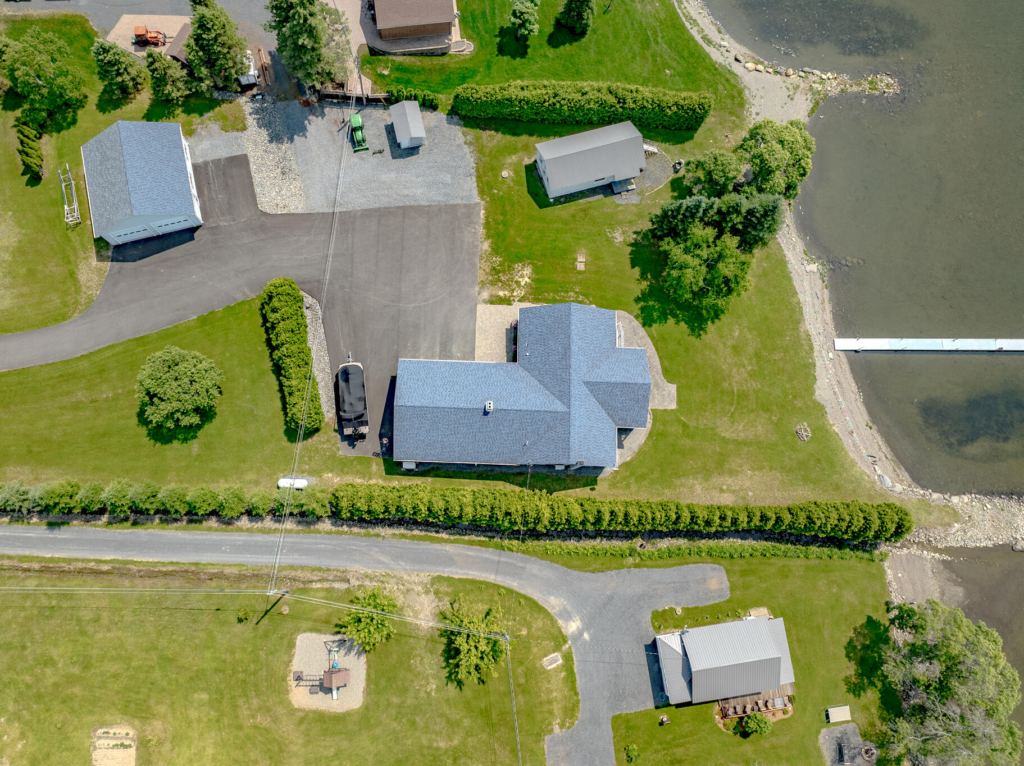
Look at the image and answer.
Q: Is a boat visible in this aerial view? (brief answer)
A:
Yes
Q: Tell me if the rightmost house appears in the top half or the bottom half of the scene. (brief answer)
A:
bottom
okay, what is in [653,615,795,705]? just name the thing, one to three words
house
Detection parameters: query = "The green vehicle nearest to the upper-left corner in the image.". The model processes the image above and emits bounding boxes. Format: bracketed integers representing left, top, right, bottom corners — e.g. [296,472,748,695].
[352,115,367,152]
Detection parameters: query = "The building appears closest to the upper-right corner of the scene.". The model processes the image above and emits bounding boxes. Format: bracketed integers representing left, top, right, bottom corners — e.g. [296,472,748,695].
[534,120,645,202]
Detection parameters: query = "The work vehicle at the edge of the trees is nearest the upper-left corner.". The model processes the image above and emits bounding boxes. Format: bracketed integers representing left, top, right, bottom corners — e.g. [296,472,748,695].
[126,22,173,49]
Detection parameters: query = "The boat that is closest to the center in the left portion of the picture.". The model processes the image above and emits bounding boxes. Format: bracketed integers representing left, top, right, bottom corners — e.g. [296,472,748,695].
[338,364,370,439]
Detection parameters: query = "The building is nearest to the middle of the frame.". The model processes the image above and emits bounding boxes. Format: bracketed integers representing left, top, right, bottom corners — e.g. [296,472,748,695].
[393,302,651,474]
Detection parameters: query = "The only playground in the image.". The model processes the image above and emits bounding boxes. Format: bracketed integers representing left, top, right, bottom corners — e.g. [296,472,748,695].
[289,634,366,712]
